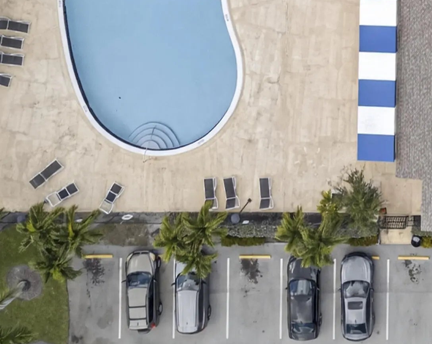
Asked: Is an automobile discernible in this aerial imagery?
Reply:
Yes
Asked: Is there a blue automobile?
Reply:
No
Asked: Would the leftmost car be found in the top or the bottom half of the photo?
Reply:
bottom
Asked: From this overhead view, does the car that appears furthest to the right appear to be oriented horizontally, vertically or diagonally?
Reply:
vertically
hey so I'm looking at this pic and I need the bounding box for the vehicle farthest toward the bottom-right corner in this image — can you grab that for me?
[337,251,376,342]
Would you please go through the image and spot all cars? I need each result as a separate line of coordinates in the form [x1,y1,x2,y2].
[122,250,165,334]
[171,252,214,338]
[337,251,376,342]
[285,257,323,343]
